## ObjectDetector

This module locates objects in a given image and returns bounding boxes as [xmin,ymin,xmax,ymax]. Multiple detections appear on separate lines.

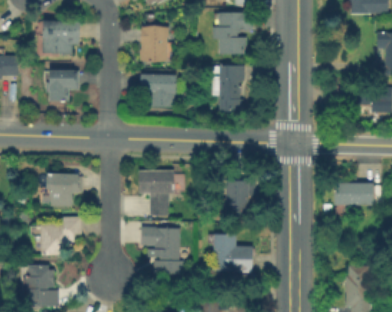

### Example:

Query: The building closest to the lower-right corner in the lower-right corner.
[345,267,370,312]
